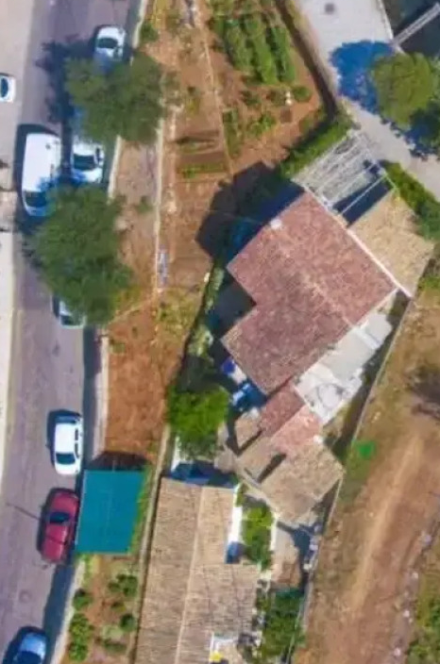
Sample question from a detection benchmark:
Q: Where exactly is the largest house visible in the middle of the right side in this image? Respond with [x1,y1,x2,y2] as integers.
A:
[226,190,427,392]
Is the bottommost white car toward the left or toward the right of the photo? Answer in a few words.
left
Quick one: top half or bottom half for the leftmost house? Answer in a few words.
bottom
